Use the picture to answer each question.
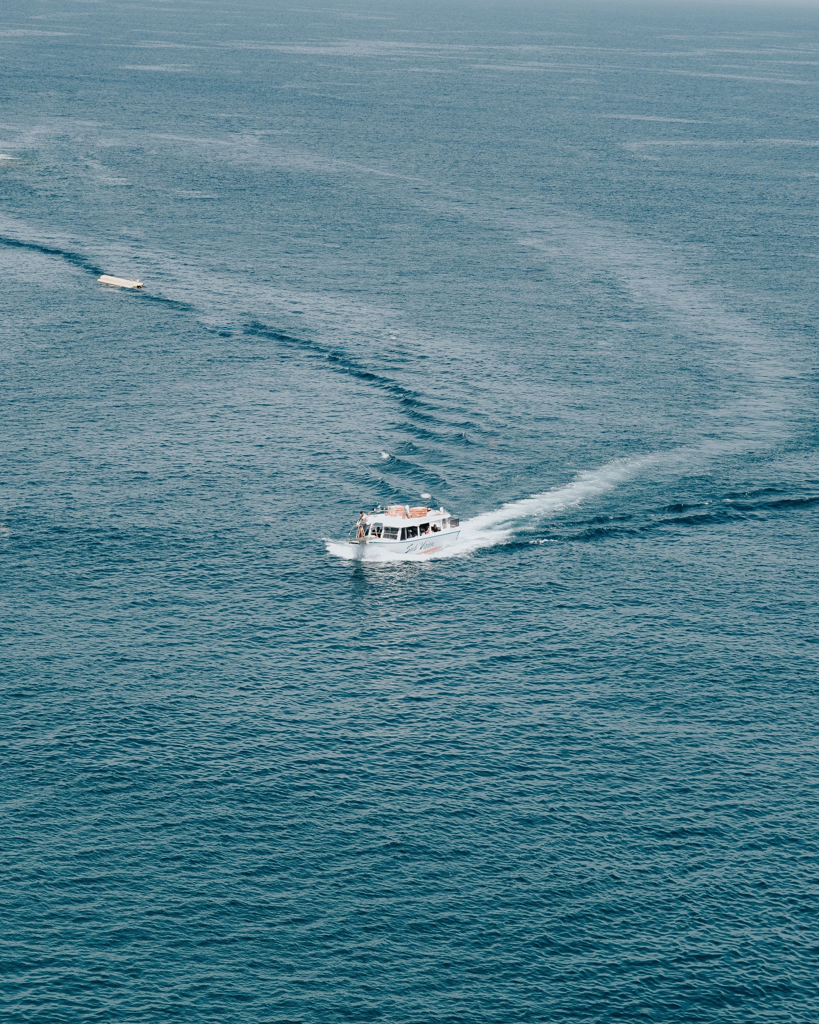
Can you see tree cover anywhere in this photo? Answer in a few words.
No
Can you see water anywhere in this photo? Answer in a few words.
Yes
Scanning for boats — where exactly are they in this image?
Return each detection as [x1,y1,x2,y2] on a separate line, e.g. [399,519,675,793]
[349,500,460,556]
[96,275,146,289]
